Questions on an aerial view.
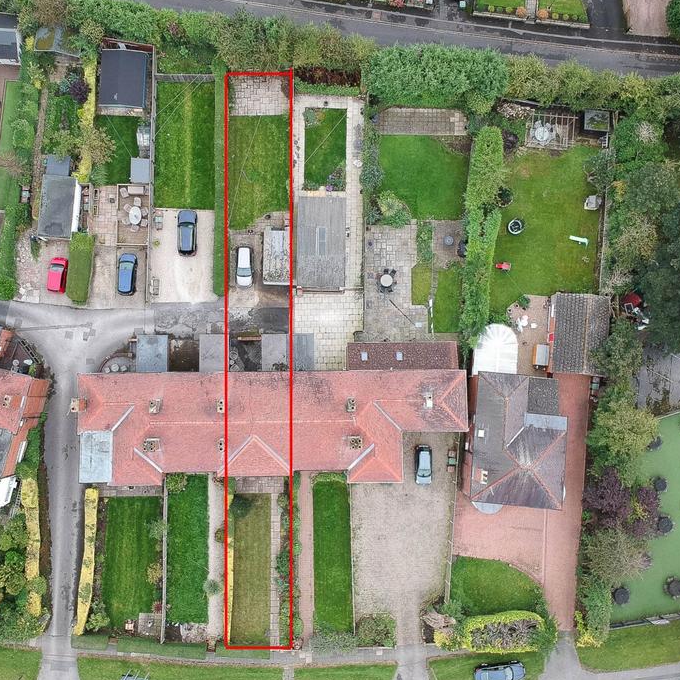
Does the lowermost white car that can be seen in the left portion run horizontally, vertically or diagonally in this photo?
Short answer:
vertically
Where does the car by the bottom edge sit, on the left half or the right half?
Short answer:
right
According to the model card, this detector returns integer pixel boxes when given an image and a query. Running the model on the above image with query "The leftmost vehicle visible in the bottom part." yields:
[412,442,434,484]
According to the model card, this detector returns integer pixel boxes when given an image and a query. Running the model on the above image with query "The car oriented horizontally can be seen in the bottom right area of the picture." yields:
[472,658,523,680]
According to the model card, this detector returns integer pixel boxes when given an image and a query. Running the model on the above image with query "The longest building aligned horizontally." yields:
[68,368,468,485]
